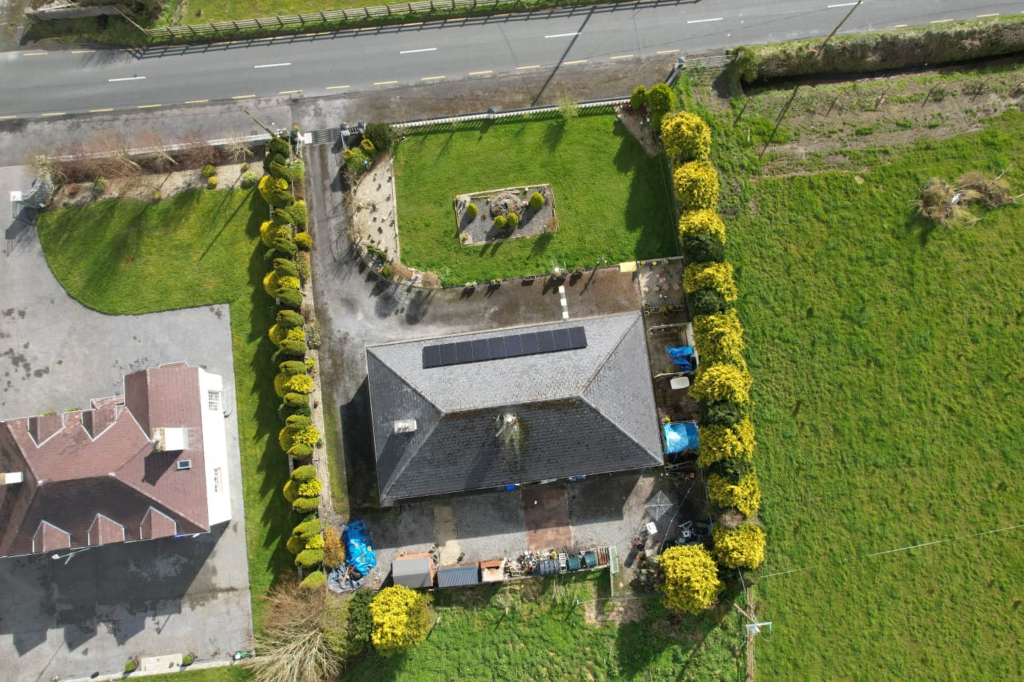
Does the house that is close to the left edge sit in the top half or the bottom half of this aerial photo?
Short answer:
bottom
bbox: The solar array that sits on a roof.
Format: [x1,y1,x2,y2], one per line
[423,328,587,368]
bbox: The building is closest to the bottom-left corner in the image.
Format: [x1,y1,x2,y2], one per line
[0,361,233,559]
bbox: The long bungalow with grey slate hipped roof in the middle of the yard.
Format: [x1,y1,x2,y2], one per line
[366,311,665,505]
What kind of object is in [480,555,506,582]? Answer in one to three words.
building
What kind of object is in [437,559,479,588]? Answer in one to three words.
shed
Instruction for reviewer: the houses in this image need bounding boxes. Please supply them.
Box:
[0,361,233,559]
[366,311,665,505]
